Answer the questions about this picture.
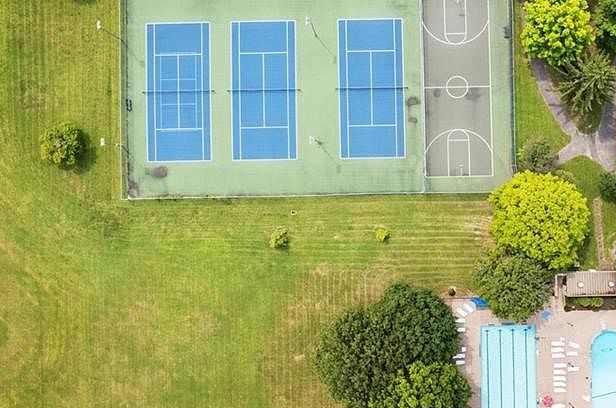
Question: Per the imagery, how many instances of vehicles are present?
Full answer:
There are no vehicles in the image.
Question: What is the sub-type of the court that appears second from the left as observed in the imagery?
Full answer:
In the photo, the court that appears second from the left shows up as a tennis court.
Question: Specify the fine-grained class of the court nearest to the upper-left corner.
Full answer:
In the photo, the court nearest to the upper-left corner shows up as a tennis court.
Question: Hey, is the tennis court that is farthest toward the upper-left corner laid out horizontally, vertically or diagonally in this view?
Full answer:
In this picture, the tennis court that is farthest toward the upper-left corner is oriented vertically.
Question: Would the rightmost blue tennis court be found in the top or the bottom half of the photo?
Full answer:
The rightmost blue tennis court sits in the top half of the picture.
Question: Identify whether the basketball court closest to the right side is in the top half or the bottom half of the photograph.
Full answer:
The basketball court closest to the right side sits in the top half of the picture.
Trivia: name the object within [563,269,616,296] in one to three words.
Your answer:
building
